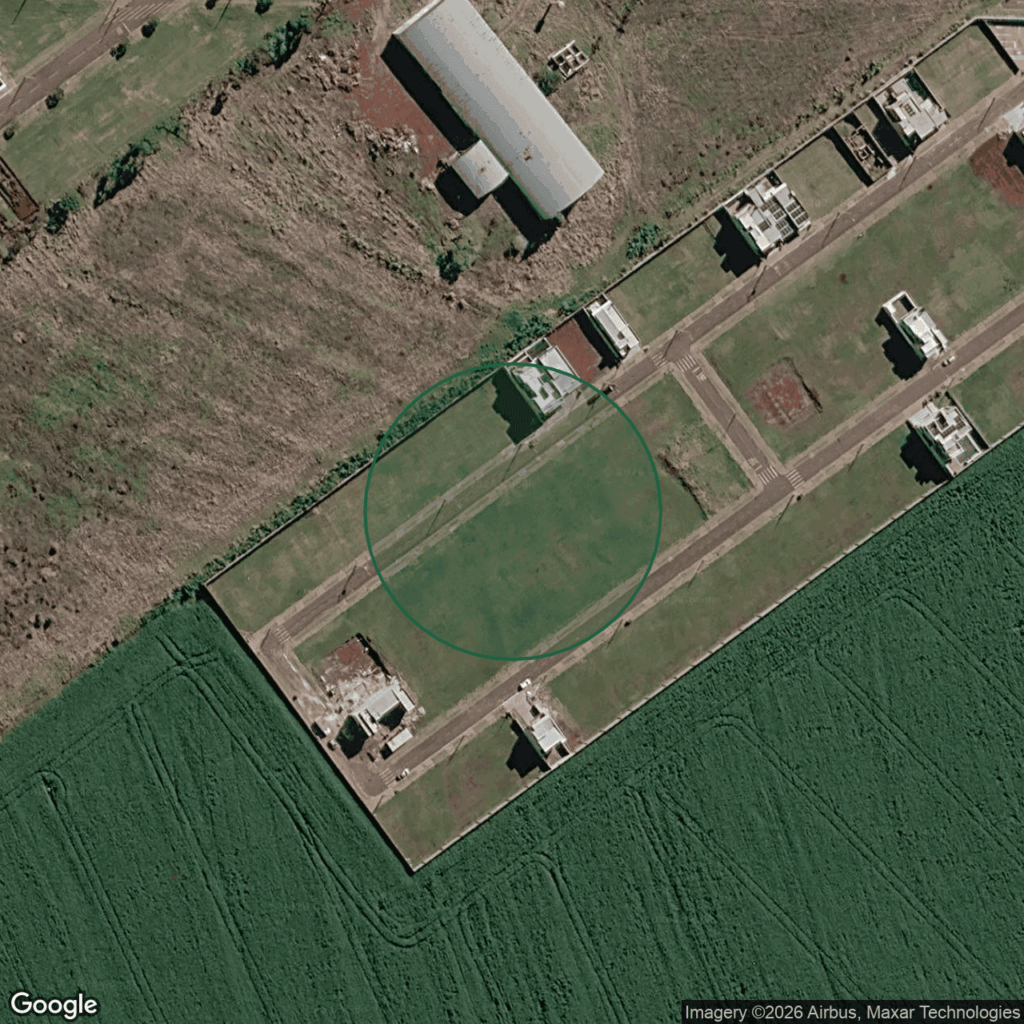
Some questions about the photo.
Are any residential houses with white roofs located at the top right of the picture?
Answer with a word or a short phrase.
Yes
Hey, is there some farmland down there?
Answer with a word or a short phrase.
Yes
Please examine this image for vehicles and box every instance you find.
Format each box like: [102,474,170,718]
[519,678,532,690]
[397,769,409,779]
[945,355,957,366]
[604,385,616,395]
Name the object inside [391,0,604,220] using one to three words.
warehouse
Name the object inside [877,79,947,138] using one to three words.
house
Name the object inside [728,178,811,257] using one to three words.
house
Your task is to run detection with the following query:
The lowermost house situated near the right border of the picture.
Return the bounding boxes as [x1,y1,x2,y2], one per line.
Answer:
[909,402,982,476]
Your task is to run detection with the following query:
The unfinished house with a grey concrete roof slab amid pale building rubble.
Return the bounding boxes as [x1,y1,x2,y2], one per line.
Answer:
[348,687,414,736]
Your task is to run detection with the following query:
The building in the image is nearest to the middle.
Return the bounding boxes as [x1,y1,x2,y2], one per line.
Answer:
[512,341,581,417]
